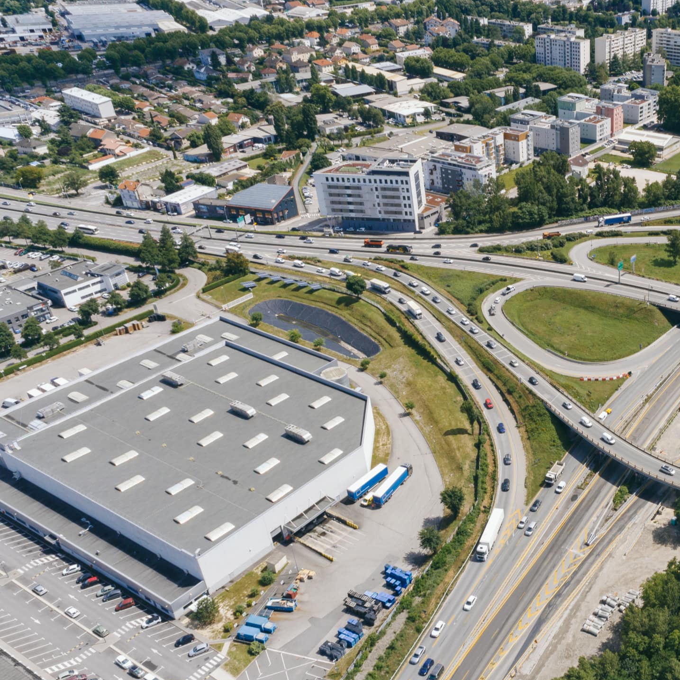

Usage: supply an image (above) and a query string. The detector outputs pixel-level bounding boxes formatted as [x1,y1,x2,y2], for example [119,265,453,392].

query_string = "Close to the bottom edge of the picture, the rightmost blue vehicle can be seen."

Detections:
[419,659,434,675]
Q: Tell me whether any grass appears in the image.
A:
Yes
